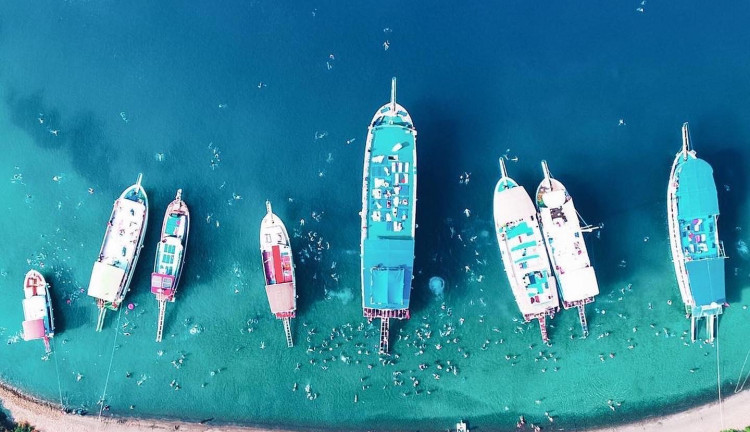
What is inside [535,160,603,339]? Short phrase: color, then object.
white boat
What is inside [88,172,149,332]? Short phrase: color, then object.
white boat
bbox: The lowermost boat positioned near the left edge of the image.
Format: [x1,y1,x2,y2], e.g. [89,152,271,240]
[22,266,61,353]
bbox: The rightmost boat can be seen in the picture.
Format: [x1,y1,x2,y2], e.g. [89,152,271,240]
[662,122,731,343]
